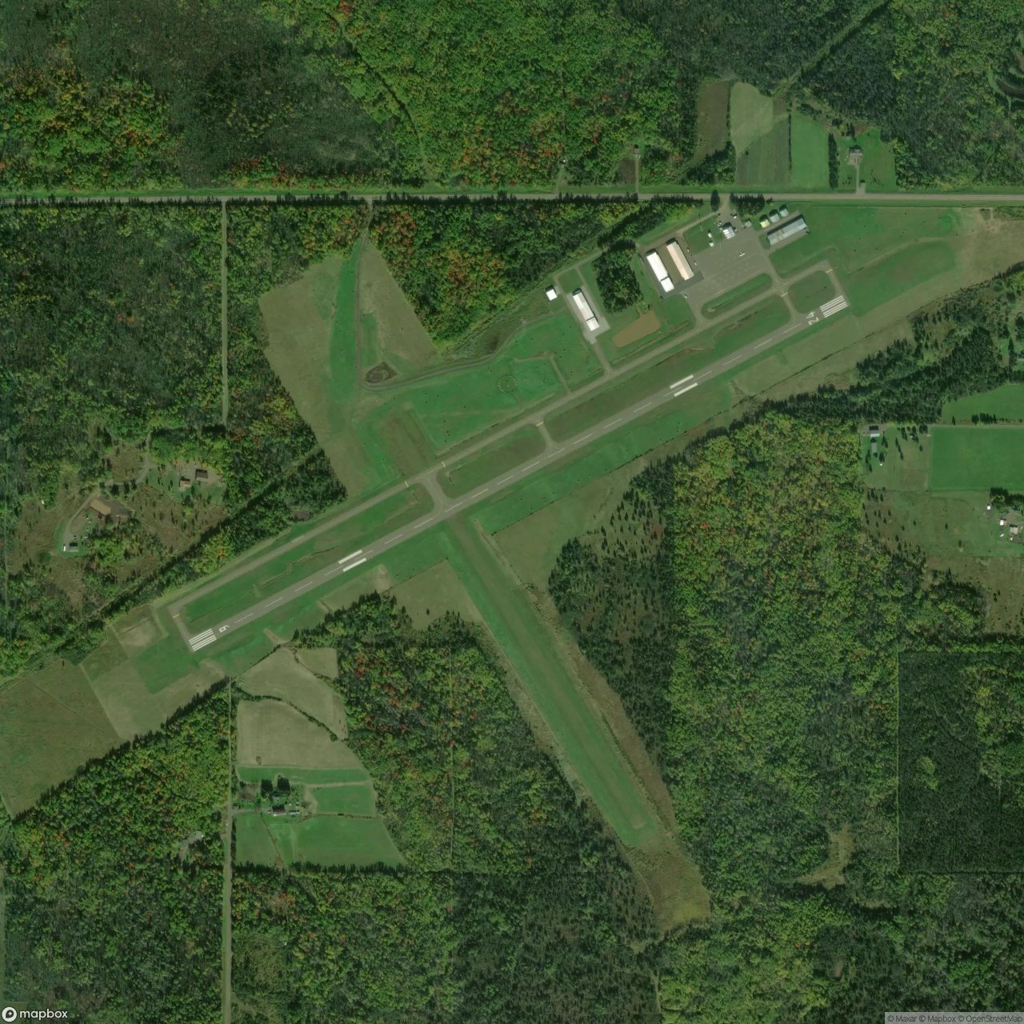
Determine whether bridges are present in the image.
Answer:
No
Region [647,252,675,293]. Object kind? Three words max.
hangar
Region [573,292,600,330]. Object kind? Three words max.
hangar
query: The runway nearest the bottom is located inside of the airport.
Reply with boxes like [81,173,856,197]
[439,506,657,848]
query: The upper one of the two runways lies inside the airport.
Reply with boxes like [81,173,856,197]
[186,294,850,653]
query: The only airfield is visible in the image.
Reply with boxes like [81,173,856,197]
[166,199,850,848]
